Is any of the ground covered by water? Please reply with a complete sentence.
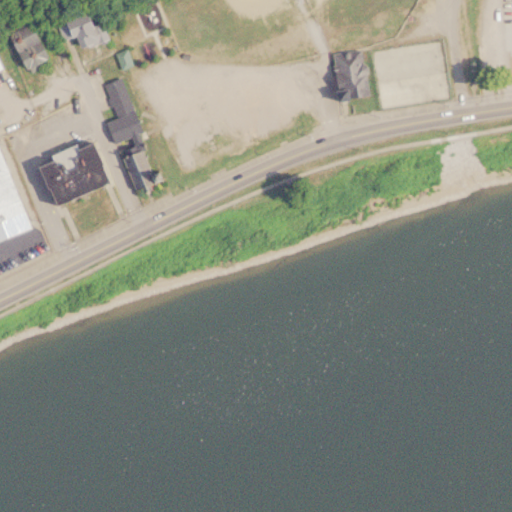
Yes, water shows up in the scene.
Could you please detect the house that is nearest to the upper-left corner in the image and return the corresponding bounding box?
[12,25,46,71]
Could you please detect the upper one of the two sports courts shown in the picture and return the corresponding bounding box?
[373,42,444,83]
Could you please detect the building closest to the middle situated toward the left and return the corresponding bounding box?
[124,152,162,188]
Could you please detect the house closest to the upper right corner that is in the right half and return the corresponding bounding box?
[333,48,372,100]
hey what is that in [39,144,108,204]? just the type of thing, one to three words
building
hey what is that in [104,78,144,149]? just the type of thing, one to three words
building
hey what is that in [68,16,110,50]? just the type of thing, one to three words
house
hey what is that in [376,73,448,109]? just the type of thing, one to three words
sports court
